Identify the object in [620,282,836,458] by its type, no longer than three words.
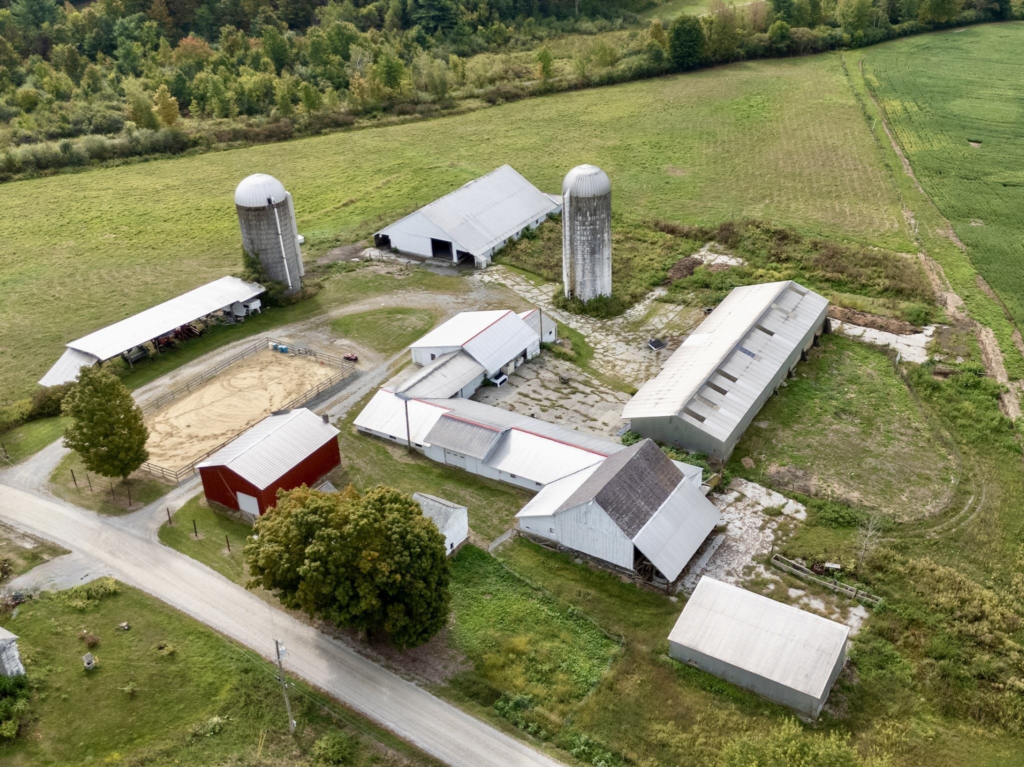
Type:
barn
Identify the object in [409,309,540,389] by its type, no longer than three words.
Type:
building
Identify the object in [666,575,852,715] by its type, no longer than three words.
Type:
shed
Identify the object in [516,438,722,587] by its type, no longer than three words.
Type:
barn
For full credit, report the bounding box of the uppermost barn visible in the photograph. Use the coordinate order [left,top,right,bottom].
[373,163,564,267]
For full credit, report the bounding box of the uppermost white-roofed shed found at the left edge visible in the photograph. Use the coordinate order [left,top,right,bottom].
[39,274,271,389]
